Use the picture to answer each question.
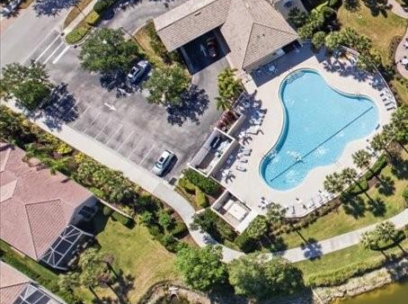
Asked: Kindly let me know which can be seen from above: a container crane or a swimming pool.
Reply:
swimming pool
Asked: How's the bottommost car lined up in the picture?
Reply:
at an angle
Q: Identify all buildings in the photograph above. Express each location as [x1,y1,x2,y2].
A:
[0,262,36,304]
[155,0,304,68]
[0,134,96,261]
